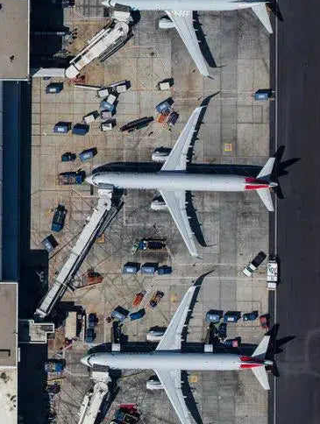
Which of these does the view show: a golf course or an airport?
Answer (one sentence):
This image shows an airport.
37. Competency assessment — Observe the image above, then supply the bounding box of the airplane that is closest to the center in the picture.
[85,106,277,261]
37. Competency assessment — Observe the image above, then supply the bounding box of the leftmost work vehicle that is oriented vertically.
[51,198,66,234]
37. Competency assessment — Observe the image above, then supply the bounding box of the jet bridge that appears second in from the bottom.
[35,183,117,320]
